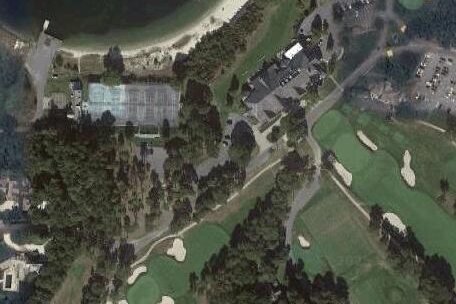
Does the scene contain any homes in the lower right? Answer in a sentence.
No, no home appears in the lower right.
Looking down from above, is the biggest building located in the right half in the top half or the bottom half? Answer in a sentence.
You can find the biggest building located in the right half in the top half.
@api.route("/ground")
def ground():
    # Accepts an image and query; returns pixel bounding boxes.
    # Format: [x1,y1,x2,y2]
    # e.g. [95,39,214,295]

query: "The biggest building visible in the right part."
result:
[242,50,321,108]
